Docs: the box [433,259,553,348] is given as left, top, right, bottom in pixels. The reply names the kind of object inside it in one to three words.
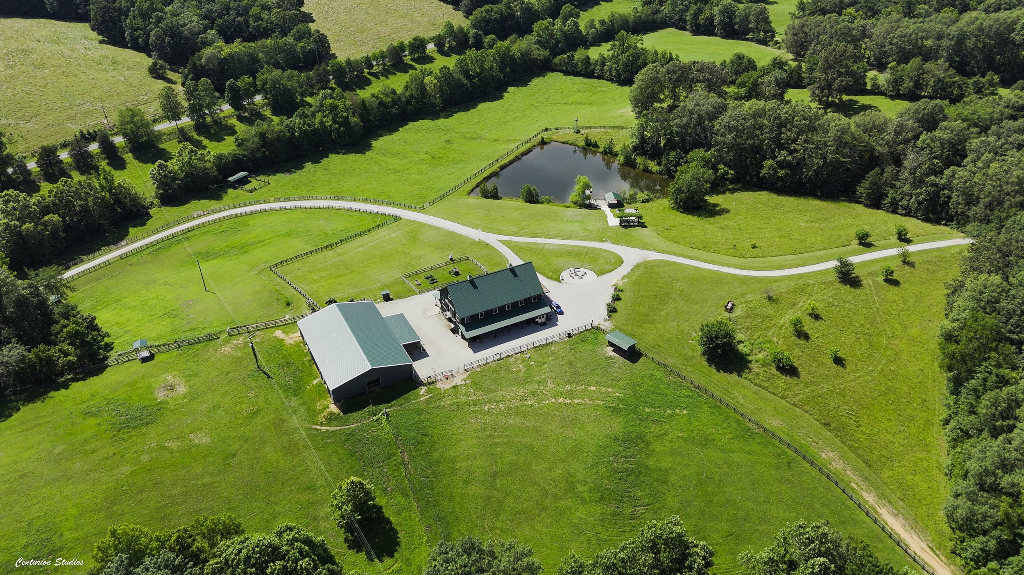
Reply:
house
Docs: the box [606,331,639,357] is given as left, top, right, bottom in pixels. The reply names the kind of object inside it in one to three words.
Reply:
shed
